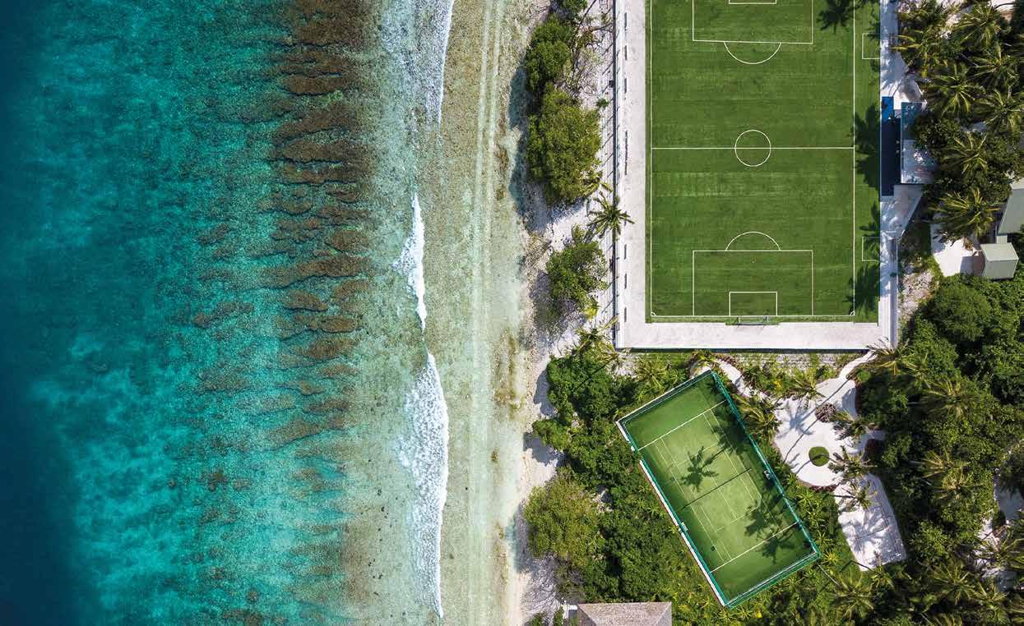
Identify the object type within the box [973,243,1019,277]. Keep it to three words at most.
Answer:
shed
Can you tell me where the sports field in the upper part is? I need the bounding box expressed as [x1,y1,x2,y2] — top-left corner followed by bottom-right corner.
[645,0,880,325]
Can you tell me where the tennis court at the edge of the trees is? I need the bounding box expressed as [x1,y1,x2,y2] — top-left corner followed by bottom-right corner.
[618,371,815,604]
